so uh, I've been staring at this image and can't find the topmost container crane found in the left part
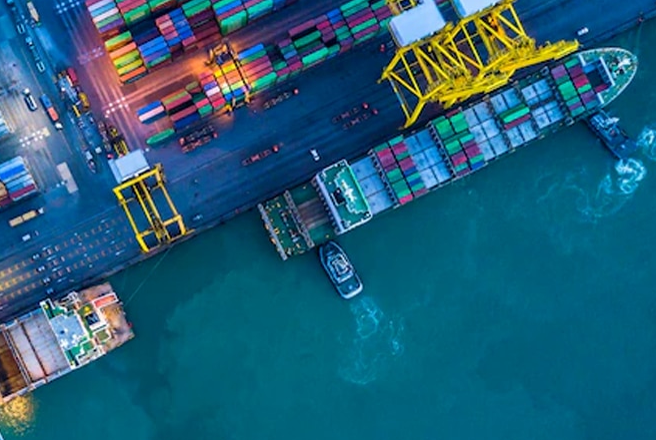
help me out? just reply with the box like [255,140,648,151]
[201,30,253,112]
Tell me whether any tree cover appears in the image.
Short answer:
No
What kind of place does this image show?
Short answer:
port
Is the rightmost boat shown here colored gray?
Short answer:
No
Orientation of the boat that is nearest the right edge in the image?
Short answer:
at an angle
